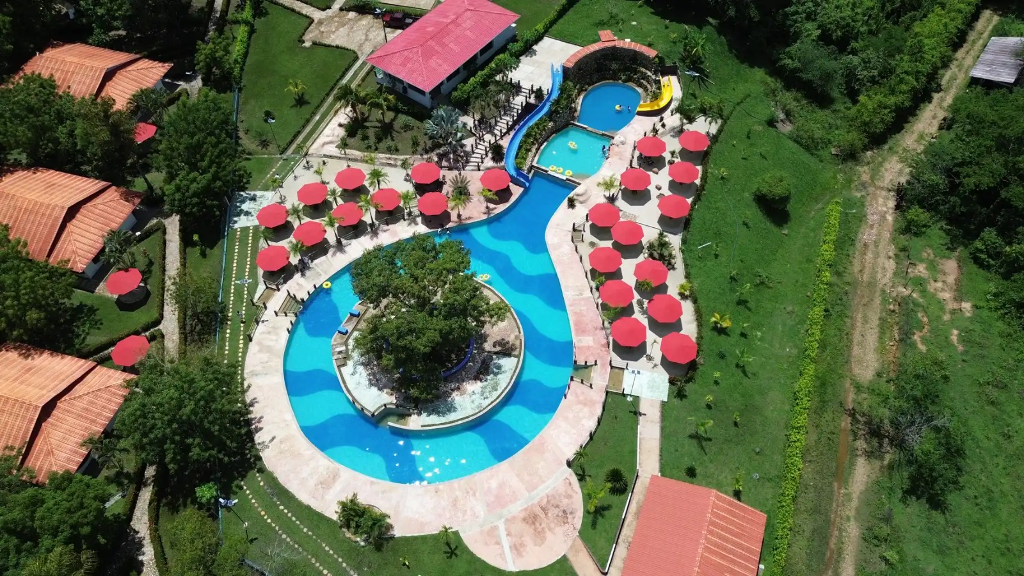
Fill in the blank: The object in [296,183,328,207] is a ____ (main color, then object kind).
red umbrella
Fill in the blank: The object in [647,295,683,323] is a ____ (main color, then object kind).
red umbrella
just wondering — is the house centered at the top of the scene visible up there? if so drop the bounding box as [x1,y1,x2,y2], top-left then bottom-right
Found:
[363,0,521,108]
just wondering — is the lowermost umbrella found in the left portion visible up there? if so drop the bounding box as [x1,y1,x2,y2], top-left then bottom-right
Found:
[111,336,150,367]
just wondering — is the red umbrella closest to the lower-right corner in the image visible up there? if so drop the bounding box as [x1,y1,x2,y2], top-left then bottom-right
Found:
[659,333,697,364]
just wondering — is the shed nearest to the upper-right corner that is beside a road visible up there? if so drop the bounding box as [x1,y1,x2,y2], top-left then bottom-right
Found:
[963,36,1024,92]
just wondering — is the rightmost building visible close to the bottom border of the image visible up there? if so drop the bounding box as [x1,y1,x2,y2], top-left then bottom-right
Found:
[621,474,767,576]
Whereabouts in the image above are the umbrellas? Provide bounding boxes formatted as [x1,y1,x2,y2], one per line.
[417,193,449,216]
[133,123,161,145]
[587,204,620,228]
[256,205,289,229]
[292,221,327,246]
[587,247,622,274]
[111,336,150,367]
[480,169,511,192]
[636,137,666,158]
[371,189,402,213]
[658,195,690,219]
[334,169,365,192]
[679,132,708,154]
[621,169,651,192]
[599,281,633,308]
[611,221,644,246]
[610,318,646,348]
[668,162,699,185]
[634,260,668,286]
[333,203,364,227]
[256,247,290,272]
[296,183,328,207]
[647,295,683,323]
[411,163,441,186]
[659,333,697,364]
